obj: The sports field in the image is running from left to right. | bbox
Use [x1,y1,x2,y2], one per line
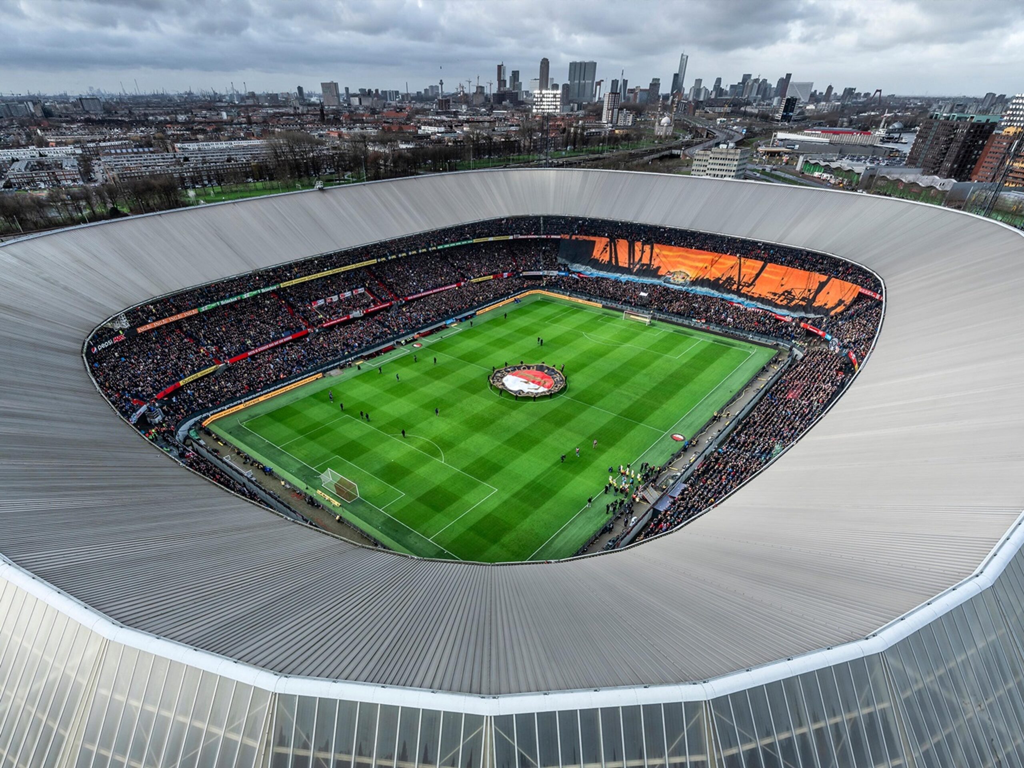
[241,299,752,558]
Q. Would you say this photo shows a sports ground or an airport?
sports ground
